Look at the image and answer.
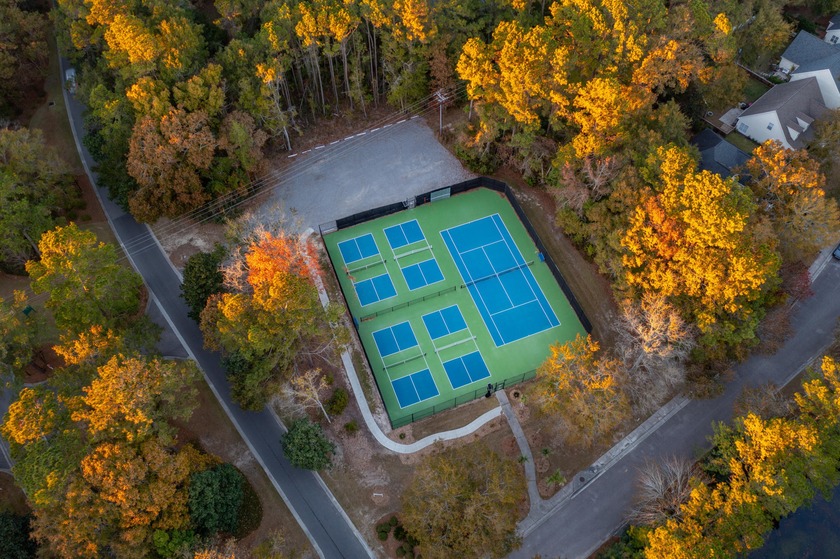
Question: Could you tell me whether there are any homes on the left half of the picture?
No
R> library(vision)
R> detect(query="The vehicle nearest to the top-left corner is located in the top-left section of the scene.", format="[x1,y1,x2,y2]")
[63,70,78,89]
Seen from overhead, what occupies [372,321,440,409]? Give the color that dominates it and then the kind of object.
blue sports court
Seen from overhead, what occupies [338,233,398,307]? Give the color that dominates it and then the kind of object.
blue sports court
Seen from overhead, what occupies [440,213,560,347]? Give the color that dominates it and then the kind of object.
blue tennis court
